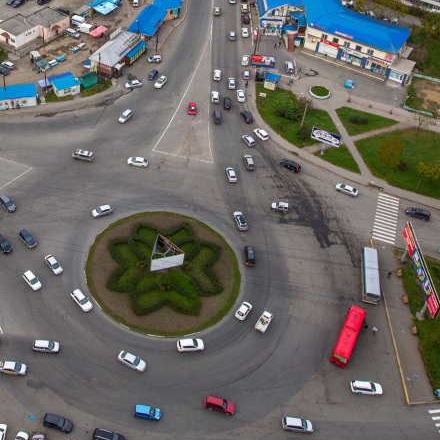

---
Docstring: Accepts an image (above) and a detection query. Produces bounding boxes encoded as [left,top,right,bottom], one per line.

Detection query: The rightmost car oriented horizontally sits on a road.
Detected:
[405,207,431,222]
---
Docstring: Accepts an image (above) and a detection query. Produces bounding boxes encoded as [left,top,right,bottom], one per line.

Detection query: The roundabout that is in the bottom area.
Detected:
[85,215,242,344]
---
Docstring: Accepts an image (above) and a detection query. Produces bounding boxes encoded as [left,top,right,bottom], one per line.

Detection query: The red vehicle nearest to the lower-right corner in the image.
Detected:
[329,303,366,373]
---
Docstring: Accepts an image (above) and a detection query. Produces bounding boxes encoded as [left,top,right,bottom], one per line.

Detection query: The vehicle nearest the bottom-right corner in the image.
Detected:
[349,378,384,396]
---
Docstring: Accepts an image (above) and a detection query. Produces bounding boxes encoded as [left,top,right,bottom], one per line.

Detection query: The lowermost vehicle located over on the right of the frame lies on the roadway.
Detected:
[282,415,313,435]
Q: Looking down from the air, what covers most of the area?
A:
paved ground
